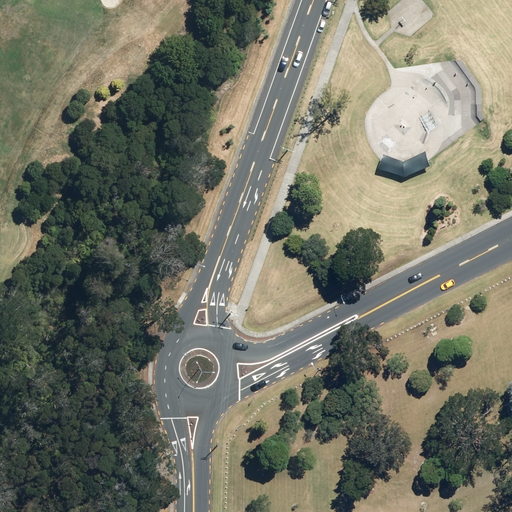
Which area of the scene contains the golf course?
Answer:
top left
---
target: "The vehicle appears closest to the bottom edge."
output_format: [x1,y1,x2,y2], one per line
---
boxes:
[251,379,266,391]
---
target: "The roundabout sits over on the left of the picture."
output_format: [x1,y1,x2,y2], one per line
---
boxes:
[179,348,220,389]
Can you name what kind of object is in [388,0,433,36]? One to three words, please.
basketball court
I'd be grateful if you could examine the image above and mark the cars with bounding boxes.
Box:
[322,0,332,17]
[440,279,456,290]
[232,343,248,350]
[293,50,304,67]
[317,18,326,34]
[408,272,422,284]
[278,54,288,71]
[251,379,266,391]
